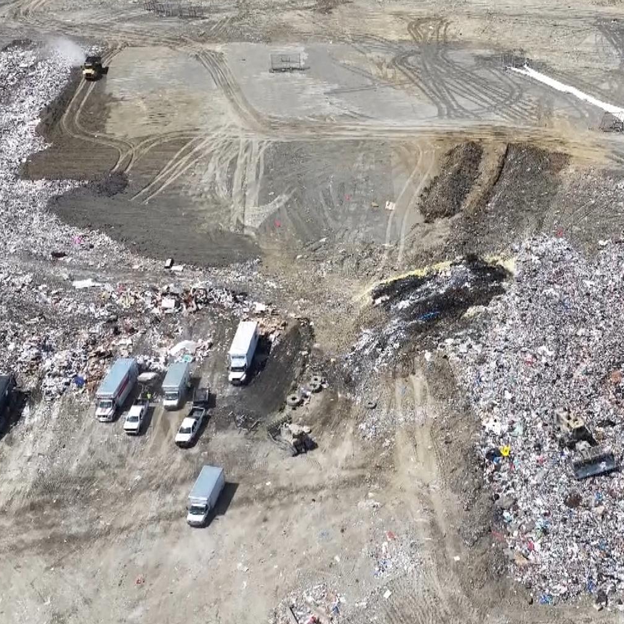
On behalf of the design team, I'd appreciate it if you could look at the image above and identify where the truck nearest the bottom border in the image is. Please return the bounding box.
[188,466,221,525]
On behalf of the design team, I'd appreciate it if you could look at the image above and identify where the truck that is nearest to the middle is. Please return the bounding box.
[228,322,256,384]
